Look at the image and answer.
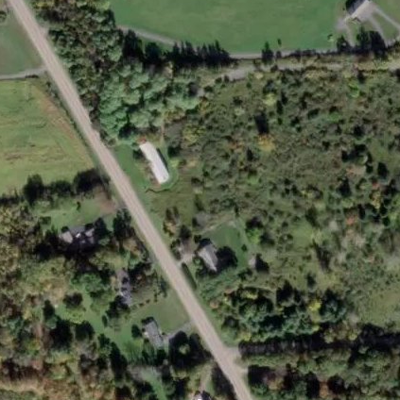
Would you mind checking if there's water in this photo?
No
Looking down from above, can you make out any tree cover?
Yes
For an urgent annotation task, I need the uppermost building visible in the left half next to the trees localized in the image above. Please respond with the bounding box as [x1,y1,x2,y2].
[140,141,170,184]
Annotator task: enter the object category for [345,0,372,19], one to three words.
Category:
barn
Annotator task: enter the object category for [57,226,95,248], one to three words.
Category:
house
